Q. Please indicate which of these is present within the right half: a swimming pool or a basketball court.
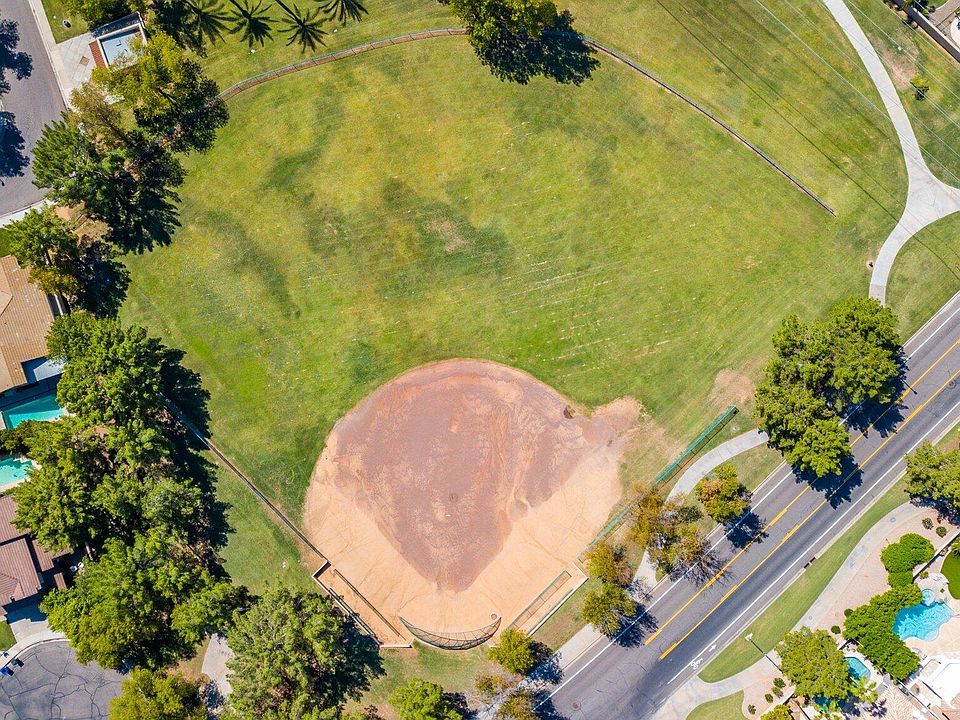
swimming pool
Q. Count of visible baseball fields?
1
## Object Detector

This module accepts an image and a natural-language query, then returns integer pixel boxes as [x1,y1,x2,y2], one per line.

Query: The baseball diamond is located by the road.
[121,32,832,650]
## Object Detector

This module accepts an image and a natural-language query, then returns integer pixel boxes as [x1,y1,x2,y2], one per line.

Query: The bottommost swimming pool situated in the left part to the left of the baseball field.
[0,454,35,488]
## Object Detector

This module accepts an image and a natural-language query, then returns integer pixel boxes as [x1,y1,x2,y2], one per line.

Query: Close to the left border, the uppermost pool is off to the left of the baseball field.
[0,390,65,430]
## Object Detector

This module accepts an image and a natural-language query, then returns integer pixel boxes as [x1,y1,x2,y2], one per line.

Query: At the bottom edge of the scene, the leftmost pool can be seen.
[810,652,873,718]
